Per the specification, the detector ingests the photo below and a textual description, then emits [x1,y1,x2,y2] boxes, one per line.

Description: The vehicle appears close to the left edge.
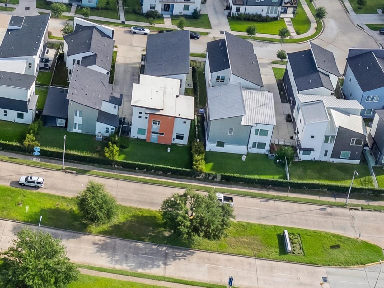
[19,175,44,189]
